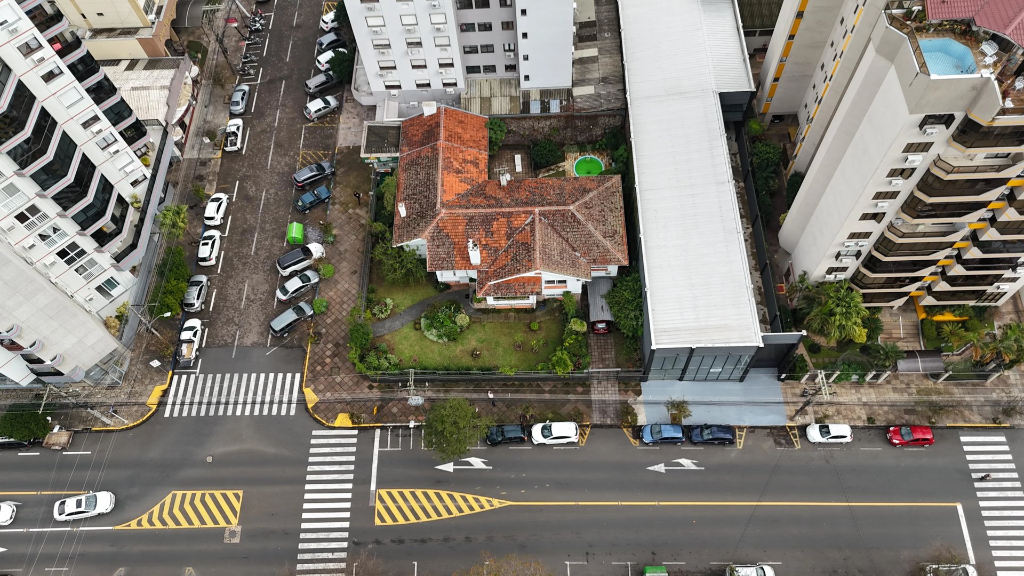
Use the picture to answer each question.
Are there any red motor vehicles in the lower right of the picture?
Yes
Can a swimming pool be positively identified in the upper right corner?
Yes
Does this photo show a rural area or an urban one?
urban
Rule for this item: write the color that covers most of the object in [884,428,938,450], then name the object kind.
red car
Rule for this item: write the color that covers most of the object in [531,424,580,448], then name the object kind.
white car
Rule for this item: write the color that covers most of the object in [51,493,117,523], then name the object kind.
white car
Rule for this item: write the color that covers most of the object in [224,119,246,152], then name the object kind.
white truck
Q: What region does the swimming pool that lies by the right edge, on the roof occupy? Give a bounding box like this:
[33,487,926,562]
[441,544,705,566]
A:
[918,37,979,74]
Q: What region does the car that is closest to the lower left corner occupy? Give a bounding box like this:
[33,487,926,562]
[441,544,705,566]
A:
[0,503,20,527]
